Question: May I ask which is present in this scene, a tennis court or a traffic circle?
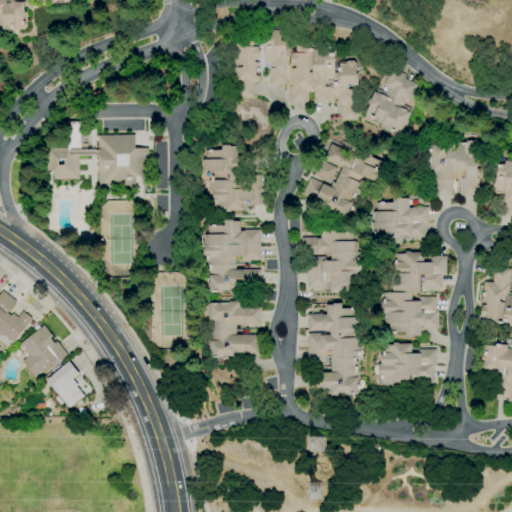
tennis court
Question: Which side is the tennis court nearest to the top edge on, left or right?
left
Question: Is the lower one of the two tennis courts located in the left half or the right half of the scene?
left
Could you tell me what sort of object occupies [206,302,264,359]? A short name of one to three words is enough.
house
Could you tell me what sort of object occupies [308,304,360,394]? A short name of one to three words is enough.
house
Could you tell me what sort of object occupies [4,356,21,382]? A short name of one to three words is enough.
swimming pool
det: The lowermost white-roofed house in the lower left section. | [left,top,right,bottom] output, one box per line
[50,365,82,406]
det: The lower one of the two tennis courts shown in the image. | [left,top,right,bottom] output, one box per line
[154,272,186,347]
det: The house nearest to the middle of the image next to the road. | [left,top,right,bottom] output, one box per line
[204,220,262,292]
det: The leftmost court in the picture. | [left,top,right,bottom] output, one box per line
[104,200,134,276]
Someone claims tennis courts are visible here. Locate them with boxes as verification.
[104,200,134,276]
[154,272,186,347]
